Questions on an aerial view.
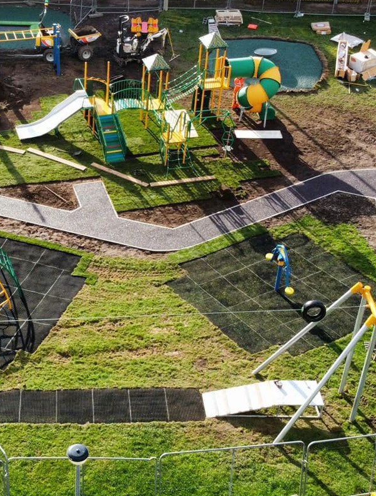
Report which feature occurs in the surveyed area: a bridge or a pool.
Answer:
bridge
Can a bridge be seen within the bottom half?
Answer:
No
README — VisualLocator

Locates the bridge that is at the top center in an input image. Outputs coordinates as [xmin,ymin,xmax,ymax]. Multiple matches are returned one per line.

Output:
[160,64,207,106]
